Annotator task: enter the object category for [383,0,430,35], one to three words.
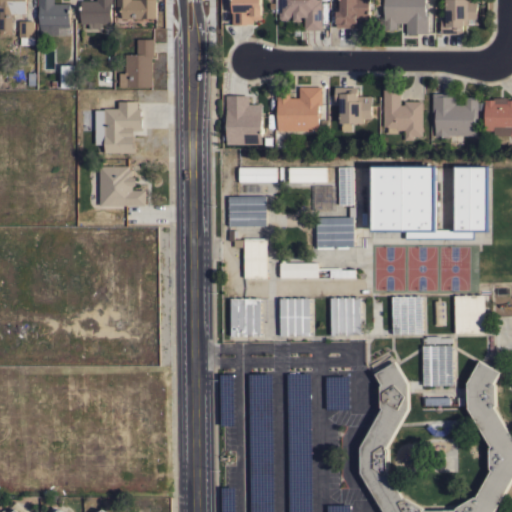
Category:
house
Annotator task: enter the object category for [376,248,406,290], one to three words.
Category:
basketball court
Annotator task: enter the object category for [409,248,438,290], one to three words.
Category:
basketball court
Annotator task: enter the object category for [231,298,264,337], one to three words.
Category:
building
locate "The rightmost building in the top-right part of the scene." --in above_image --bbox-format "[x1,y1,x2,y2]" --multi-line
[484,99,512,136]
